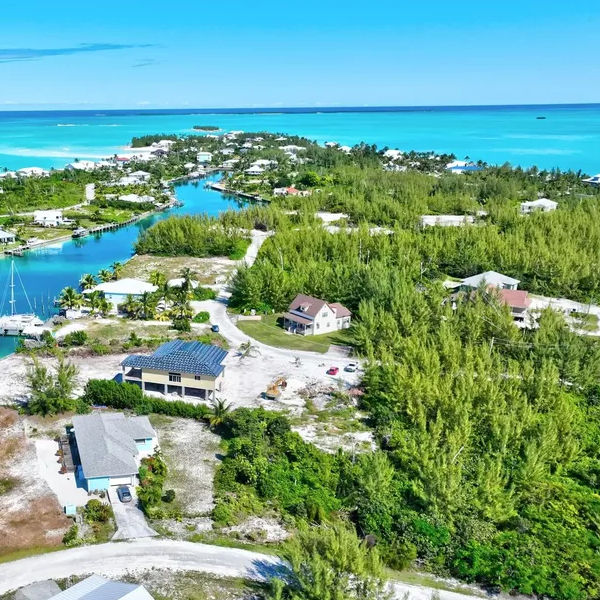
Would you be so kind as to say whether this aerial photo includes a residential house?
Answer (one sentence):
Yes, there's a residential house down there.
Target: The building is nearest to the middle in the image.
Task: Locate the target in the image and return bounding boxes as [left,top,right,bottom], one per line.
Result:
[278,294,354,336]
